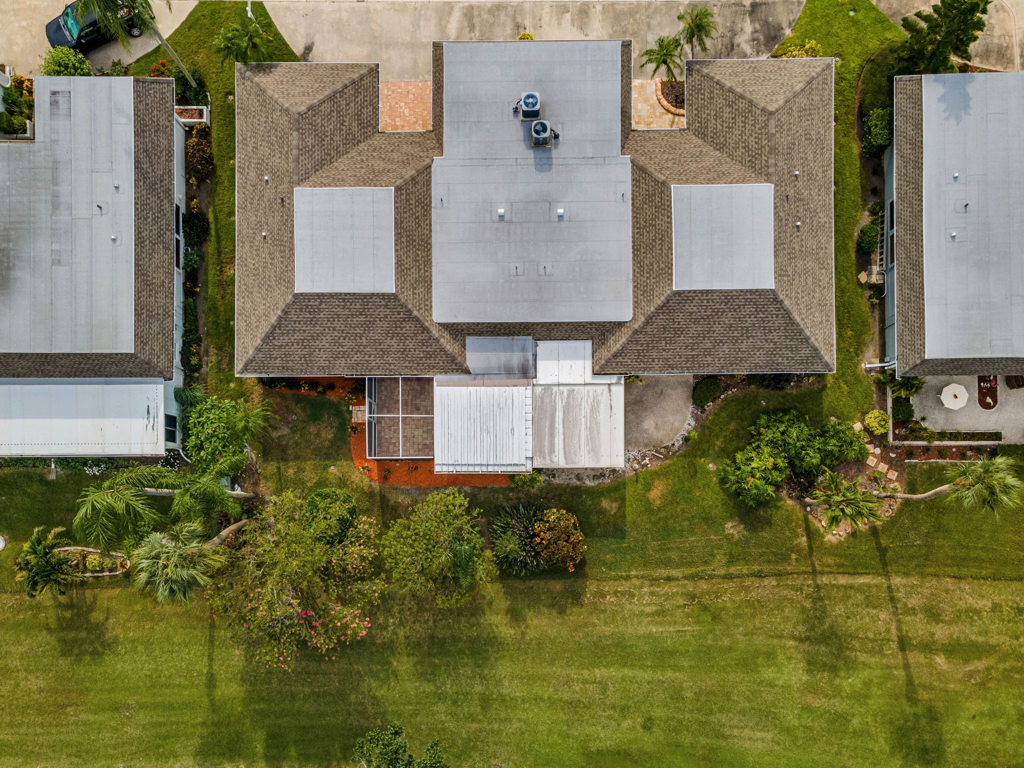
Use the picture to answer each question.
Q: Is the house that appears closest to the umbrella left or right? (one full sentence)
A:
It is on the right.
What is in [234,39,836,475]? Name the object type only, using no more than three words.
house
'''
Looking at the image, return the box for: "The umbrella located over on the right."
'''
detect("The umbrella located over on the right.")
[928,383,967,411]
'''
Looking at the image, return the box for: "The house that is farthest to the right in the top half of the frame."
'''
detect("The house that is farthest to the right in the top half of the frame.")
[866,73,1024,380]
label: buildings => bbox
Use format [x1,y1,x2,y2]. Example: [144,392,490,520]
[234,39,836,475]
[866,73,1024,380]
[0,66,195,463]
